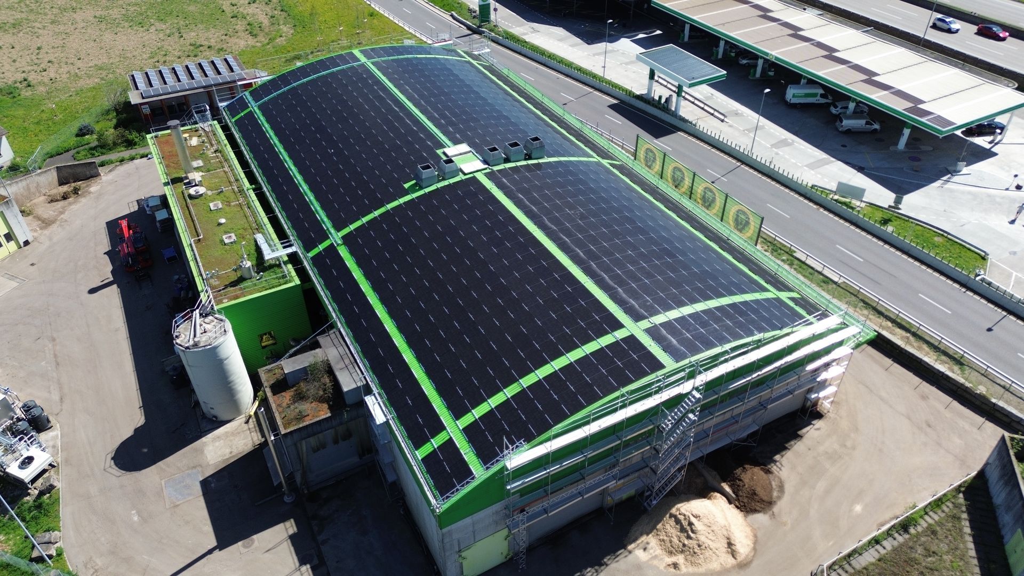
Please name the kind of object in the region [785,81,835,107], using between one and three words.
vehicle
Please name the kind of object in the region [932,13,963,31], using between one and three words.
car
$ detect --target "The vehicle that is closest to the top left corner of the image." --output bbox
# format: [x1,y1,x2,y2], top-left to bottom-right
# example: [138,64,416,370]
[116,215,156,281]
